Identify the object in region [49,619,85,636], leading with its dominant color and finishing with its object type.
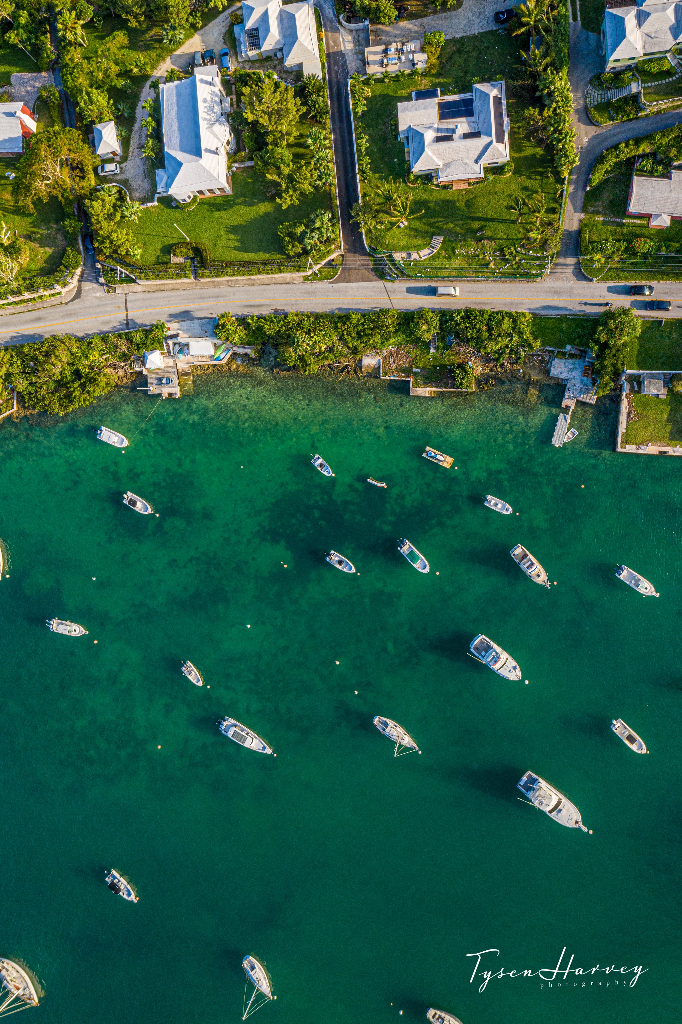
white boat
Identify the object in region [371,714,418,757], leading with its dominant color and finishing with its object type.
white boat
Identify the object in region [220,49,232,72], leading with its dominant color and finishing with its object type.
blue vehicle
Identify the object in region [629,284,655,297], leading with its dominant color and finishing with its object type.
black vehicle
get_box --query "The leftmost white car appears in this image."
[99,164,119,176]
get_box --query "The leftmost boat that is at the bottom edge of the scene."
[0,952,39,1019]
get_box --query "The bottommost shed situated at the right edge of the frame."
[640,373,663,395]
